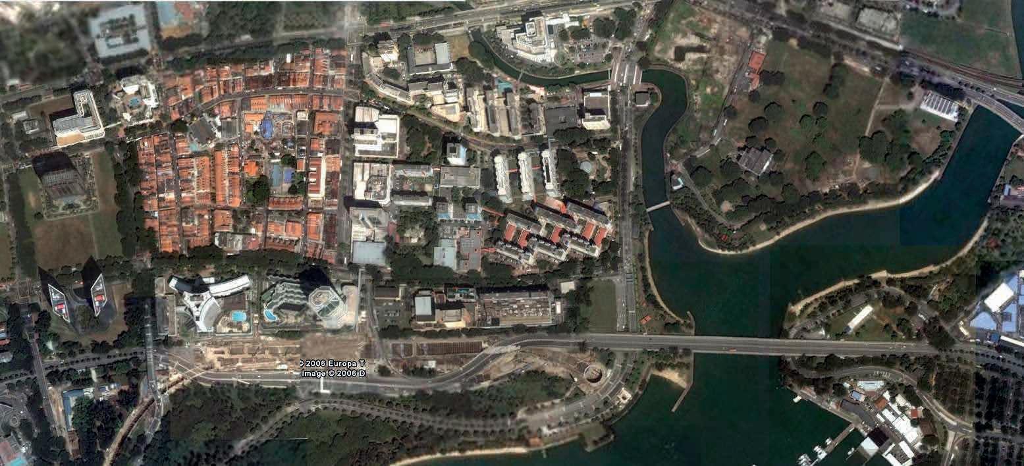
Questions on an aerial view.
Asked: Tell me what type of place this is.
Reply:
residential area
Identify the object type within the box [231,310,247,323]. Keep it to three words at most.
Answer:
swimming pool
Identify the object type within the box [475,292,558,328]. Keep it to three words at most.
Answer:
building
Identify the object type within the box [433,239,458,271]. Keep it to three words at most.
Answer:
building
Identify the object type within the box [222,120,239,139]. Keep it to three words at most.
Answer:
shed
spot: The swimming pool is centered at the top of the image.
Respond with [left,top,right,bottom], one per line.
[495,78,514,93]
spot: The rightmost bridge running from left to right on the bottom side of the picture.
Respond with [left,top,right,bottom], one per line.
[691,334,786,355]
